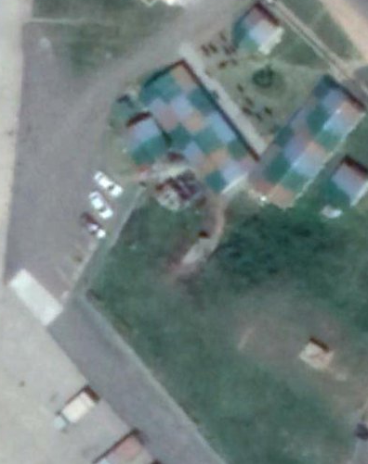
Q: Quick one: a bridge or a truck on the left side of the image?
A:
truck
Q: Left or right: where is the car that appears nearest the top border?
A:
left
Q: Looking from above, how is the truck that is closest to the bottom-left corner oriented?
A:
on a diagonal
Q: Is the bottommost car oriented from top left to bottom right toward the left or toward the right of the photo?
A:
left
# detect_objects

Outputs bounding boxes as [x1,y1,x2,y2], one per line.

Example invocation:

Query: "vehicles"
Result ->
[89,190,112,218]
[98,434,146,464]
[81,212,106,237]
[95,170,122,196]
[52,388,98,430]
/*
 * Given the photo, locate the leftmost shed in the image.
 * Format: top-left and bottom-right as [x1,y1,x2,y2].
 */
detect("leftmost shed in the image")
[125,116,169,158]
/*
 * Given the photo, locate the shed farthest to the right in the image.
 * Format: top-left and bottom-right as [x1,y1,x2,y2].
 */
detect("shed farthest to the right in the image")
[324,162,368,210]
